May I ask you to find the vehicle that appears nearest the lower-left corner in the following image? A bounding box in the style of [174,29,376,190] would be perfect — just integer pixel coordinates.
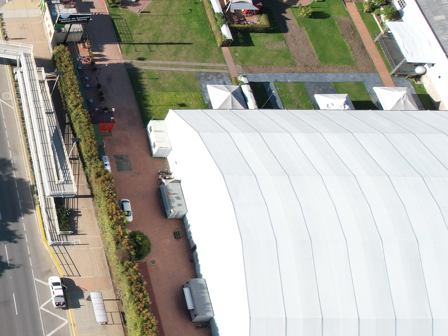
[48,275,69,311]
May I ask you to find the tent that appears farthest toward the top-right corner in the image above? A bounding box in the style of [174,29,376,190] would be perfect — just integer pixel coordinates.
[365,87,418,110]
